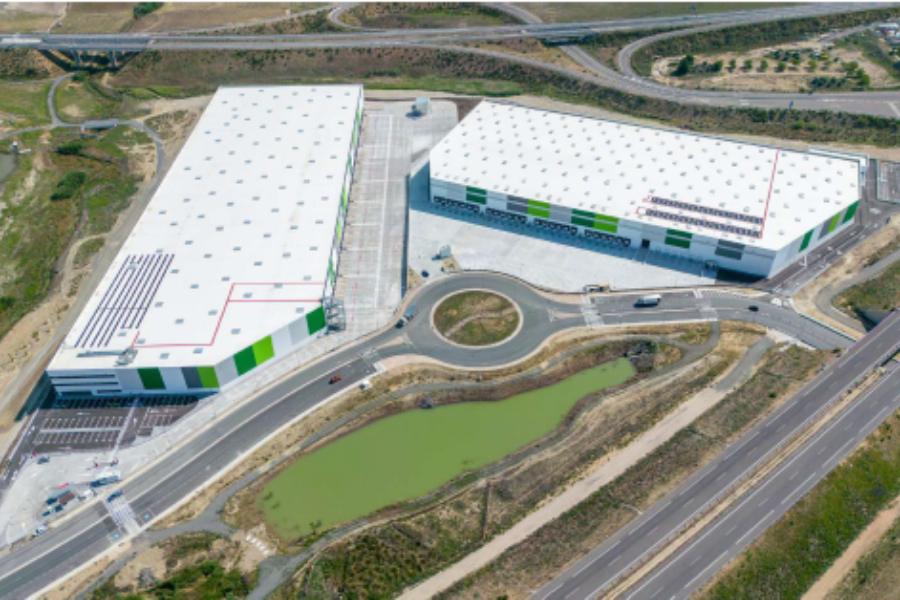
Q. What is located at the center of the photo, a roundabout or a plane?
roundabout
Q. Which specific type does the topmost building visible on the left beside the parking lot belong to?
warehouse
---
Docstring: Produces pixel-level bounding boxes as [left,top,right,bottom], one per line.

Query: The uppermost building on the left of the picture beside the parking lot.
[47,83,367,396]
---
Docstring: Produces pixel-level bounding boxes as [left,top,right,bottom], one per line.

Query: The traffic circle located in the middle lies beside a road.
[371,275,560,369]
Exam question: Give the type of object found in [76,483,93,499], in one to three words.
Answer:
vehicle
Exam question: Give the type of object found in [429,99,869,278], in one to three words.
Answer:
warehouse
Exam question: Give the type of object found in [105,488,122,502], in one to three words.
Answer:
vehicle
